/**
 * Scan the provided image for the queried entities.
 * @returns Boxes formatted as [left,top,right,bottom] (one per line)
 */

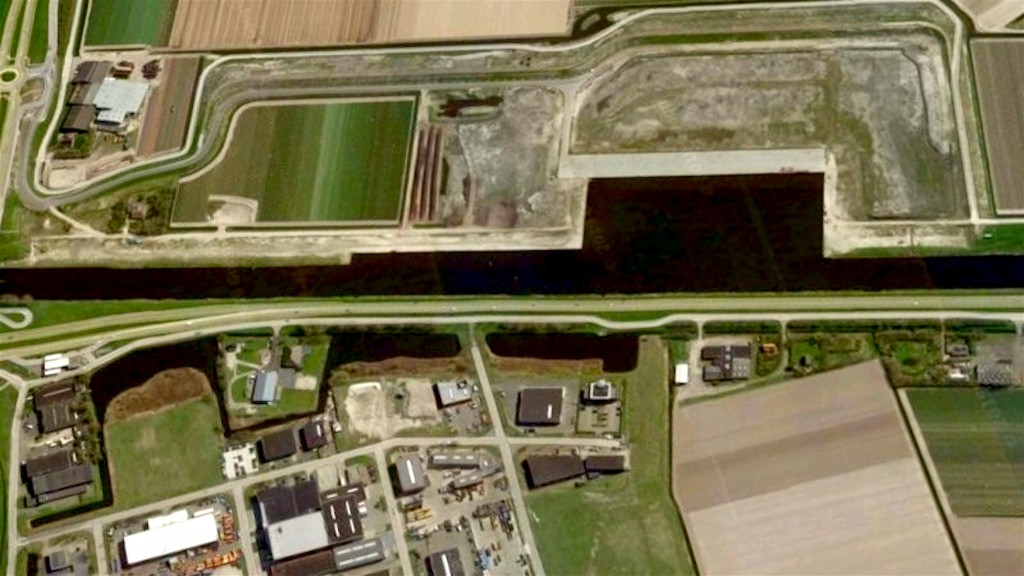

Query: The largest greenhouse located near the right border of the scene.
[978,363,1013,386]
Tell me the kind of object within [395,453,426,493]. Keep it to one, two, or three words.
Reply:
building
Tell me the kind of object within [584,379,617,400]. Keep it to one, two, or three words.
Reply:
building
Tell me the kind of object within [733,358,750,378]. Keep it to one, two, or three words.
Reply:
barn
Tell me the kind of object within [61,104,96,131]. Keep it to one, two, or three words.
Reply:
barn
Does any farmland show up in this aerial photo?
Yes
